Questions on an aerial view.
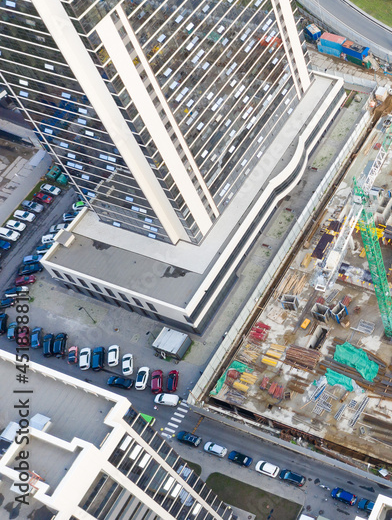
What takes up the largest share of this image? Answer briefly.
buildings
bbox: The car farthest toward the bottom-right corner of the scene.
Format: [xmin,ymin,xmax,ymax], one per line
[353,498,376,515]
